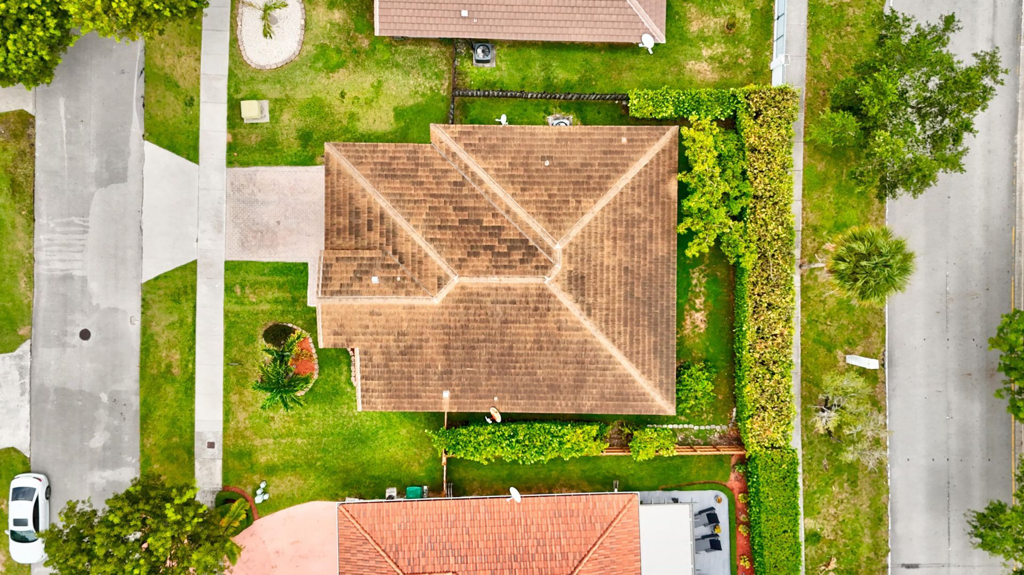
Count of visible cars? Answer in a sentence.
In total, 1 car can be seen.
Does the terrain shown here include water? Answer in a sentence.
No, the picture contains no water.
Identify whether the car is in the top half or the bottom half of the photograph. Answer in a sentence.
You can find the car in the bottom half.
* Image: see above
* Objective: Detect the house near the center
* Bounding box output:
[313,124,679,415]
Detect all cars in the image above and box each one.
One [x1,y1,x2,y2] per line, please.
[5,474,56,564]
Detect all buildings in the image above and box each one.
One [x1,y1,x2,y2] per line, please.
[335,485,644,575]
[370,0,667,44]
[313,124,679,415]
